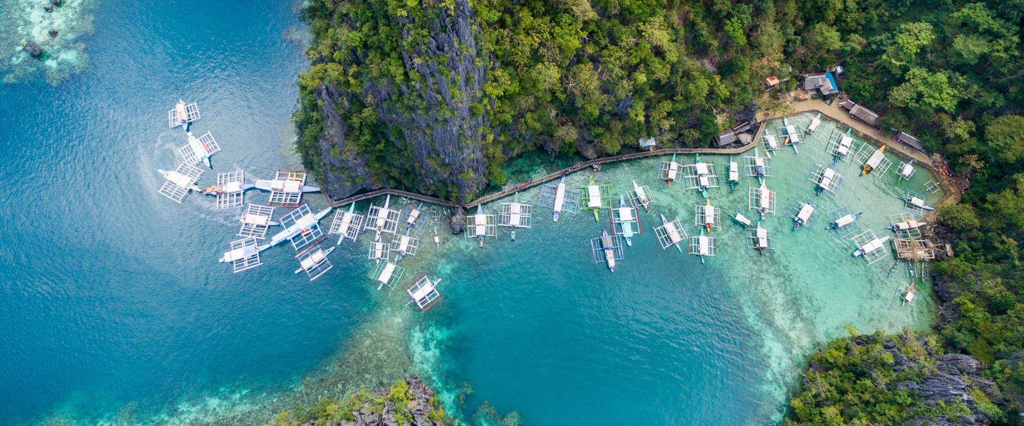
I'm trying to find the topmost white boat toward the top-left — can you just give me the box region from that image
[168,98,201,130]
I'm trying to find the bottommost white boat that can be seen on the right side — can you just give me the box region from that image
[896,282,920,307]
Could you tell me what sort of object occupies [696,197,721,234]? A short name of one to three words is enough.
boat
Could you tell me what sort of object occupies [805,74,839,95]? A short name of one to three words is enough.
house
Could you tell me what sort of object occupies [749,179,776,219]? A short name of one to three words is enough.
boat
